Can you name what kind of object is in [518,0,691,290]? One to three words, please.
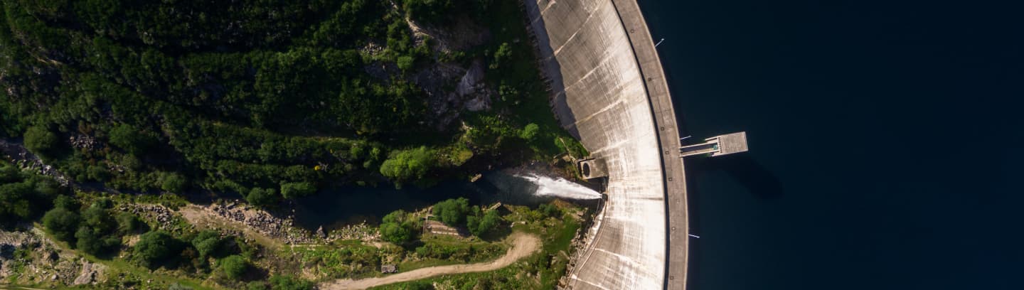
dam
